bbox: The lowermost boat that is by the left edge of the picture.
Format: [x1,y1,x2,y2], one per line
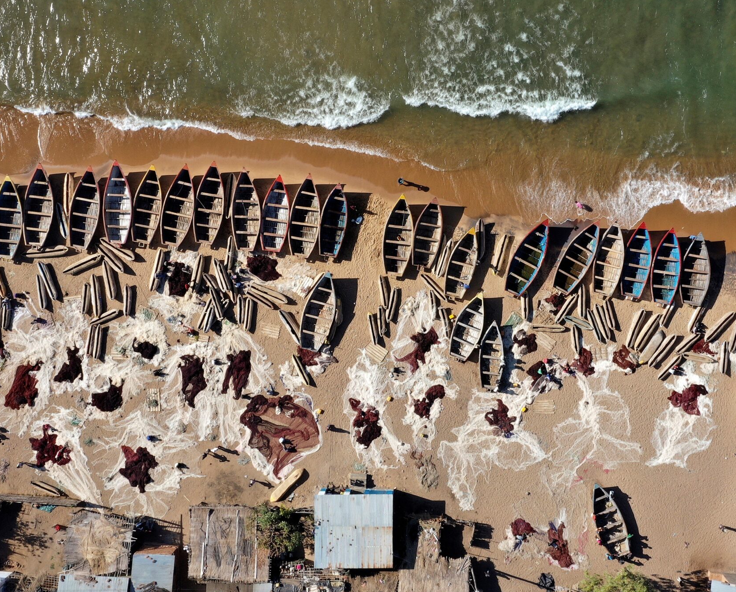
[30,479,61,497]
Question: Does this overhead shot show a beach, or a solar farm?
beach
